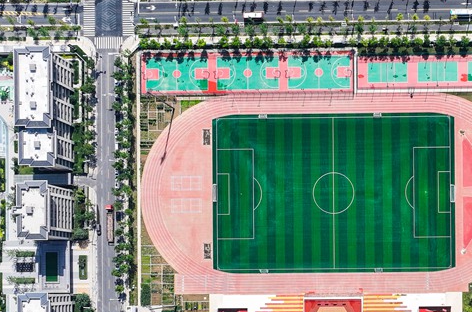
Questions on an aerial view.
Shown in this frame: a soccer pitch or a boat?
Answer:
soccer pitch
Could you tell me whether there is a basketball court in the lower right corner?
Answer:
No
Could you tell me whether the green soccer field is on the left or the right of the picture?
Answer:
right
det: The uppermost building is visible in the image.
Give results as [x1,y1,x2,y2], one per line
[14,47,75,136]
